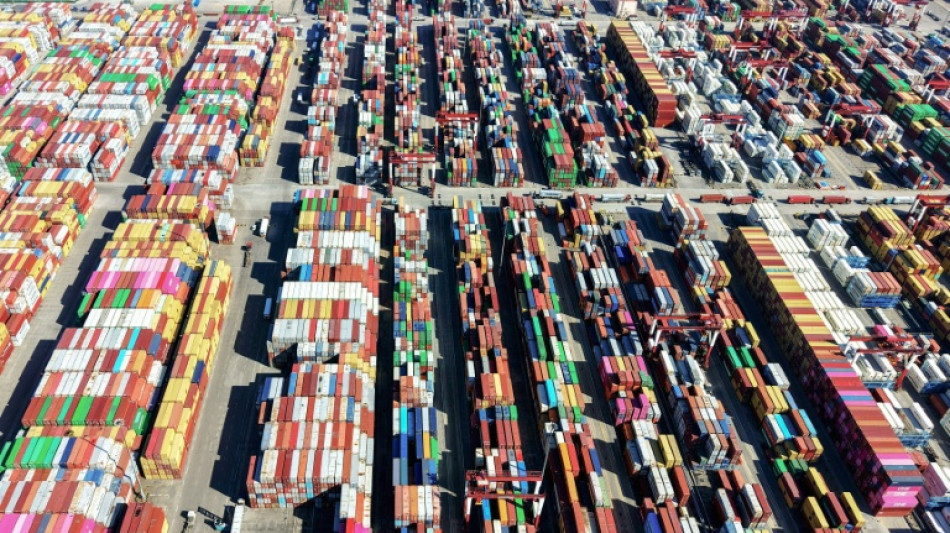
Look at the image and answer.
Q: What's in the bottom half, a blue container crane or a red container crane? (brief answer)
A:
red container crane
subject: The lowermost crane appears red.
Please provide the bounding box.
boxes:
[459,474,549,533]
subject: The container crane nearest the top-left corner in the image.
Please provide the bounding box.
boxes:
[386,154,437,197]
